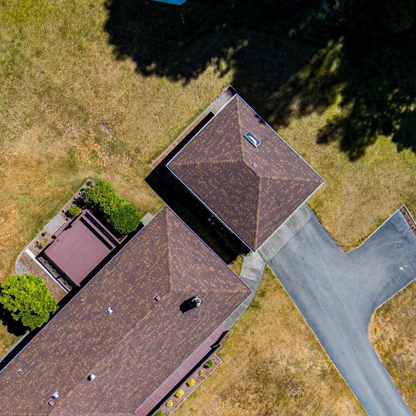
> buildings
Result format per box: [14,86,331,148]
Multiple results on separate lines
[0,205,254,416]
[165,94,324,253]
